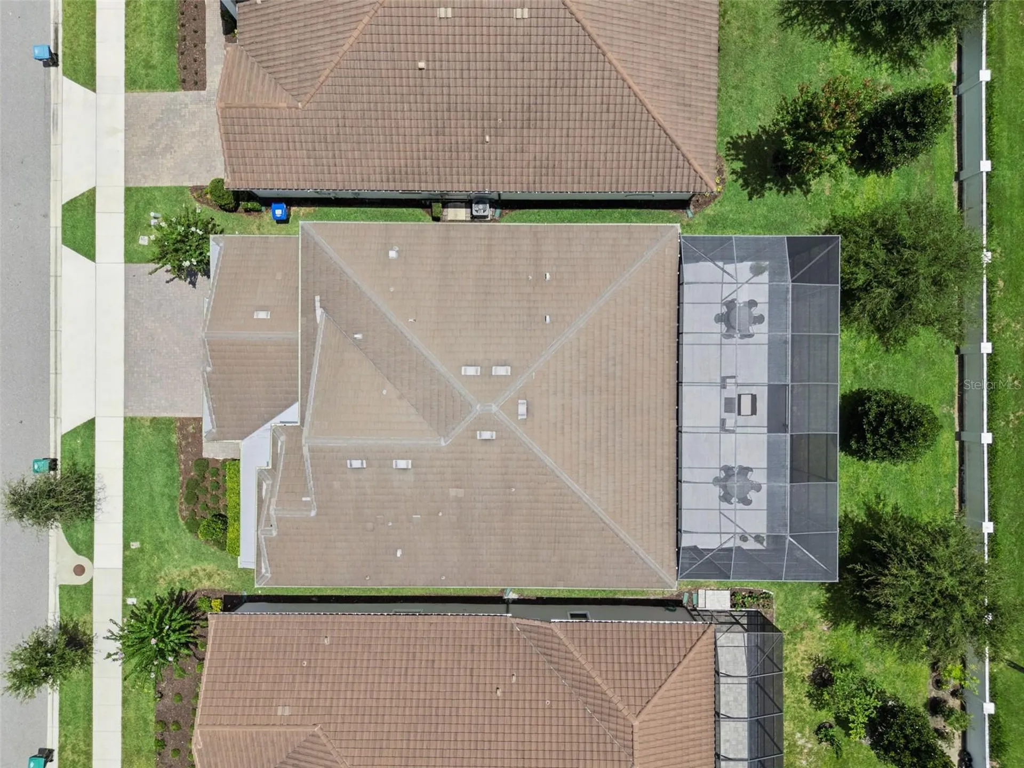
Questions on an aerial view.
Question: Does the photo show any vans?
No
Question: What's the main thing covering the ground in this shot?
buildings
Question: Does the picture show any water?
No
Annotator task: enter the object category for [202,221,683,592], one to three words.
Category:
house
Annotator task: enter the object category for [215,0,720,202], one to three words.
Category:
house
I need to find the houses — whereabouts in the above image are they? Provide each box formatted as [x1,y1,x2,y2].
[202,221,683,592]
[191,600,718,768]
[215,0,720,202]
